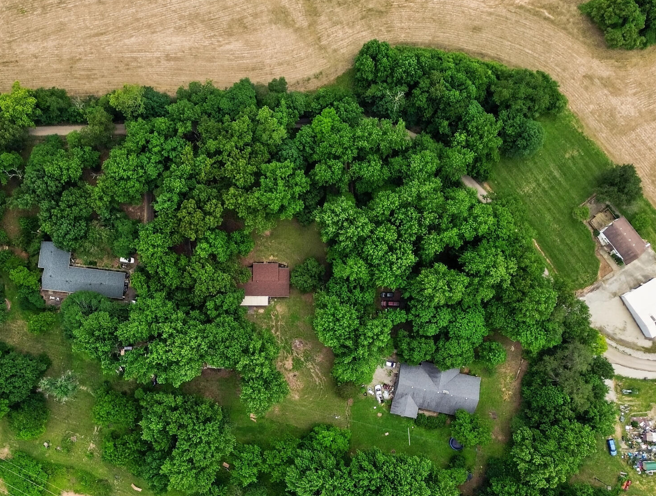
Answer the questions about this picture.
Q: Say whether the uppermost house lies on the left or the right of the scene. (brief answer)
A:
right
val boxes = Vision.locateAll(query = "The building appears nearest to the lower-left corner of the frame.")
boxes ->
[39,241,127,298]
